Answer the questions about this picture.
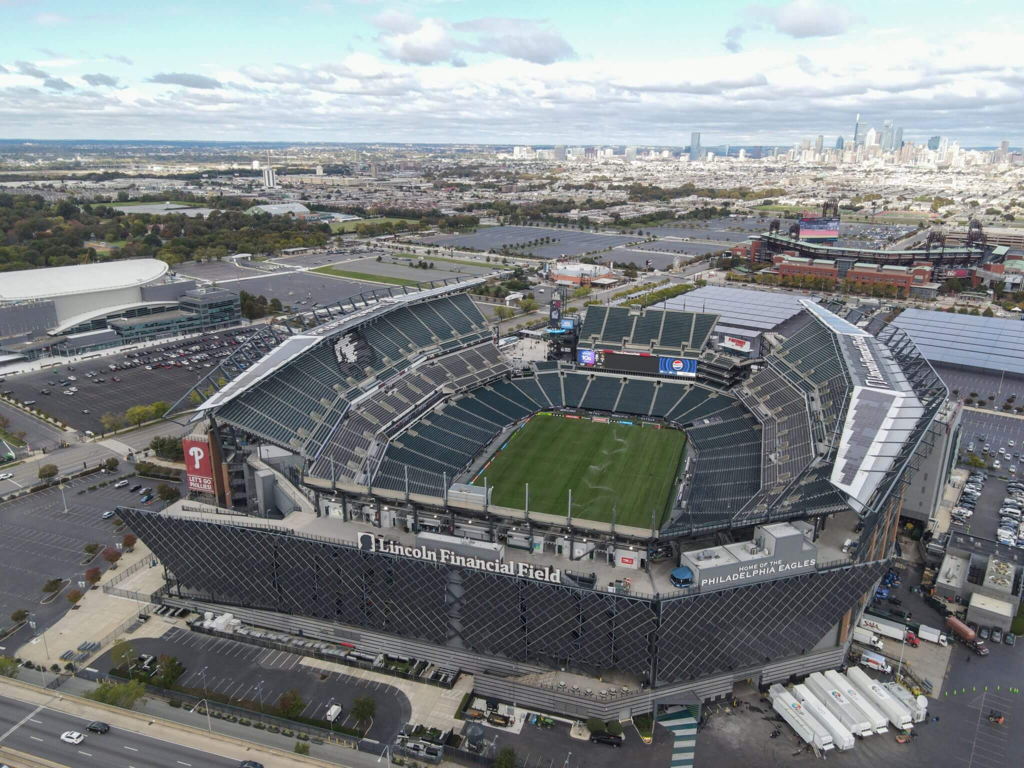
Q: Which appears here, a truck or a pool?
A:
truck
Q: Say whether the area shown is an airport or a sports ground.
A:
sports ground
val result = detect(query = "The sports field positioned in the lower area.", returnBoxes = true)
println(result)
[481,415,686,525]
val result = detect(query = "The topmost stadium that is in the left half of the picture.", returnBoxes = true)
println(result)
[0,258,241,363]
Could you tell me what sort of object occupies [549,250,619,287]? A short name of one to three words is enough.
building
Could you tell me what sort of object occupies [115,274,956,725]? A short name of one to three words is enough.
stadium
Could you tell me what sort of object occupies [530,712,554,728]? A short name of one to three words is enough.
work vehicle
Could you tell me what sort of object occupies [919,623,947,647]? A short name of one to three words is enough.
truck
